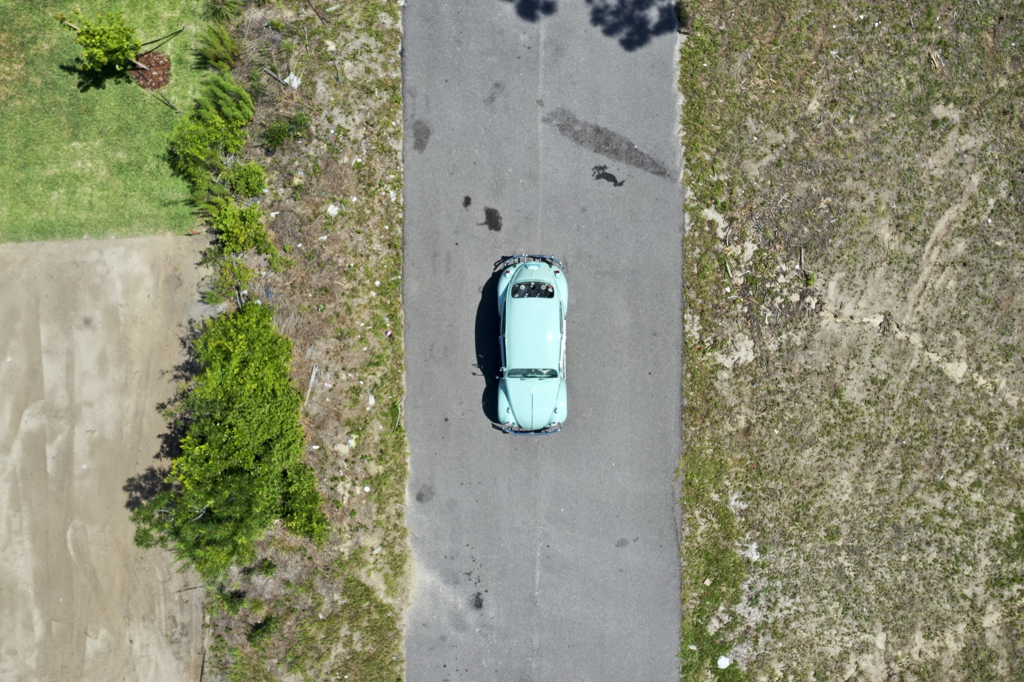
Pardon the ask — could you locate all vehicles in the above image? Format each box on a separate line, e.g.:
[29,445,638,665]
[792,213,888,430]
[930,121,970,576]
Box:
[496,253,568,437]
